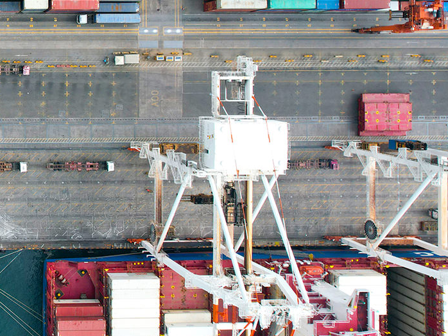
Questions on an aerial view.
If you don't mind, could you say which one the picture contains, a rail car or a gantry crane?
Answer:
gantry crane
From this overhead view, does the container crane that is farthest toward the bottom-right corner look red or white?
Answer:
white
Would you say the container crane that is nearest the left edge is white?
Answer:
Yes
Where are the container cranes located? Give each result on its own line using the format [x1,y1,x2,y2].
[361,0,448,38]
[125,53,317,336]
[324,143,448,288]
